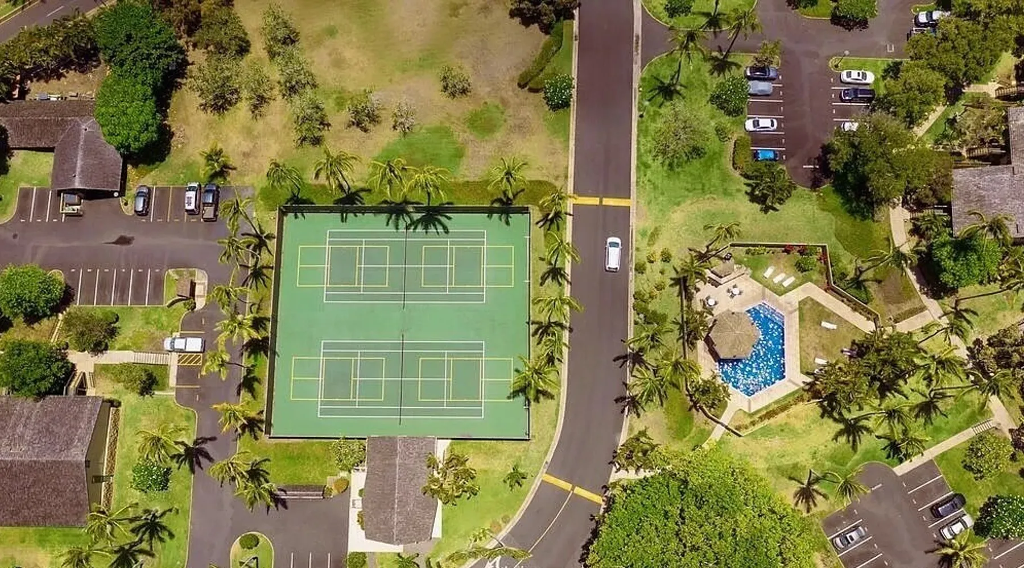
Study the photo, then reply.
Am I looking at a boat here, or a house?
house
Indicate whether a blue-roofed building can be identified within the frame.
No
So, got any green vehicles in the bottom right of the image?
No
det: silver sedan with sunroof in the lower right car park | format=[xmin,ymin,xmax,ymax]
[831,526,866,549]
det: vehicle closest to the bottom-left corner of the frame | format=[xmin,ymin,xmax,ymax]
[164,336,206,352]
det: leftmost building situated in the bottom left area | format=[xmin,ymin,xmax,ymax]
[0,396,111,527]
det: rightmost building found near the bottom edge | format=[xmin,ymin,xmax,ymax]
[362,438,438,545]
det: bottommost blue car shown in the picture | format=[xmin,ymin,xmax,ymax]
[752,148,780,162]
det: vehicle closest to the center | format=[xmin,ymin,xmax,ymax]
[605,237,622,272]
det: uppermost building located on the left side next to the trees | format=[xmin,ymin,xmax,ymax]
[0,100,124,192]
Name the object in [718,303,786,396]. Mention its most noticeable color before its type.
blue swimming pool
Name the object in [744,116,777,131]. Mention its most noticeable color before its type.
white car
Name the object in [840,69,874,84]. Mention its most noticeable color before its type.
white car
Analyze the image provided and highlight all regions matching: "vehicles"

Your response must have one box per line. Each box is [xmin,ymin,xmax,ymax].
[133,186,152,216]
[744,65,777,80]
[605,237,622,272]
[164,336,206,352]
[831,526,866,549]
[839,87,875,103]
[752,148,780,162]
[840,69,874,84]
[747,80,774,94]
[185,182,203,215]
[929,494,968,519]
[914,10,947,26]
[938,515,975,540]
[202,183,220,221]
[744,116,777,131]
